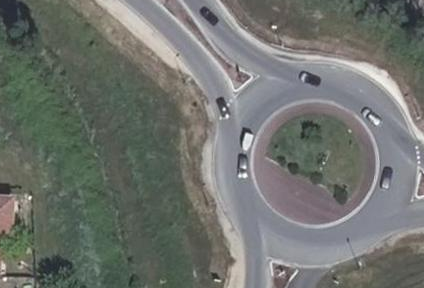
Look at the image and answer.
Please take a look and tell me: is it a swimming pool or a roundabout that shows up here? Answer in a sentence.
There is a roundabout in the scene.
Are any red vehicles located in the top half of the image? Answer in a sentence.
No, the scene shows no red vehicle in the top half of the image.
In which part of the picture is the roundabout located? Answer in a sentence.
You can find the roundabout in the right area of the picture.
